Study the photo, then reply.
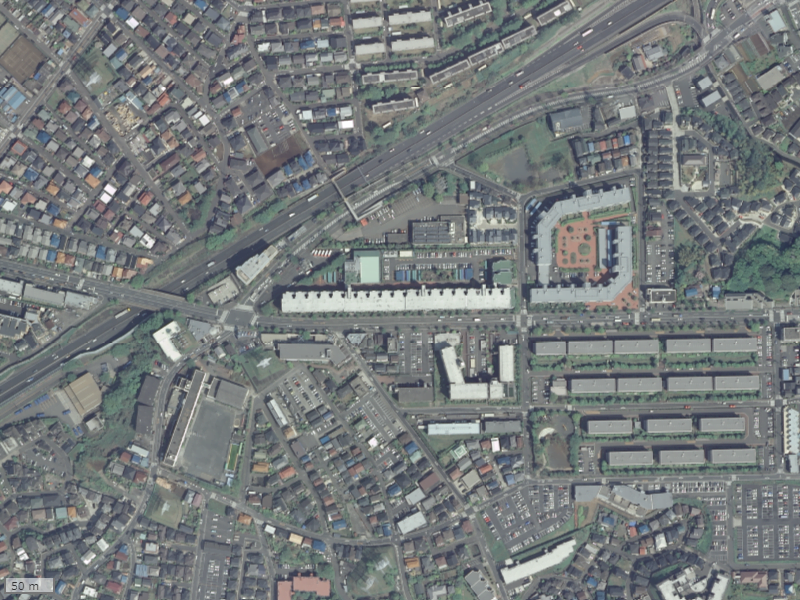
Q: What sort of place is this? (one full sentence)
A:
The area seen from above is a residential area.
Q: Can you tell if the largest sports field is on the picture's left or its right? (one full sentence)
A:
You can find the largest sports field on the left side of the picture.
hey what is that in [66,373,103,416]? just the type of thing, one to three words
barn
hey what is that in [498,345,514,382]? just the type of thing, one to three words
building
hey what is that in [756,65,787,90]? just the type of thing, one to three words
building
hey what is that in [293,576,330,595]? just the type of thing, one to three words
house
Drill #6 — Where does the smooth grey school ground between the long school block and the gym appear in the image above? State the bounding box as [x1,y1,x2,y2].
[182,398,244,484]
